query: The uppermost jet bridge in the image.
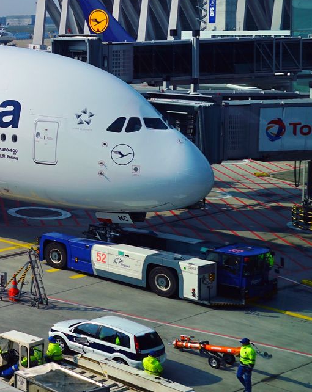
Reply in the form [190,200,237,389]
[42,18,296,87]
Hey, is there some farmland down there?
No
